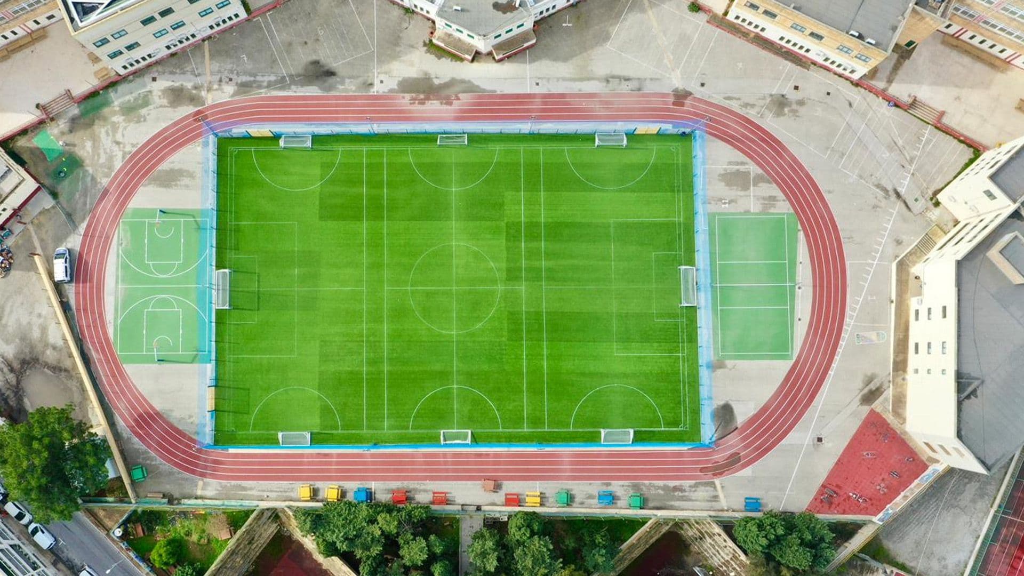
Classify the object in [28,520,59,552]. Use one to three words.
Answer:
car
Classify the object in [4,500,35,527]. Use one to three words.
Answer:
car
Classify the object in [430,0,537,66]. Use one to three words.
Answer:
building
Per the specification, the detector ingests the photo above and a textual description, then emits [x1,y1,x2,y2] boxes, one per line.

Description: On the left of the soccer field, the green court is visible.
[113,209,209,364]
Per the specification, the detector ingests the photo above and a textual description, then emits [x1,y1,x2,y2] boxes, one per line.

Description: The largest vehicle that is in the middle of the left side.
[53,248,74,282]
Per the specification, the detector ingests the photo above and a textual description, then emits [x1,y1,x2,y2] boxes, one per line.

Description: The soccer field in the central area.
[214,133,702,445]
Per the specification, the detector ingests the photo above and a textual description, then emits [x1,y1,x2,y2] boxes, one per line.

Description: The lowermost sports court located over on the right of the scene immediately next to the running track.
[622,525,724,576]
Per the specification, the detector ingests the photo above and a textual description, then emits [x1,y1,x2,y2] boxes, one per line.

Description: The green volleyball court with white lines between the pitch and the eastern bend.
[708,213,800,360]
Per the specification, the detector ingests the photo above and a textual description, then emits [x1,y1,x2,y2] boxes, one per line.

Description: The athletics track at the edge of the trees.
[74,94,846,483]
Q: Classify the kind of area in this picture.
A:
sports ground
